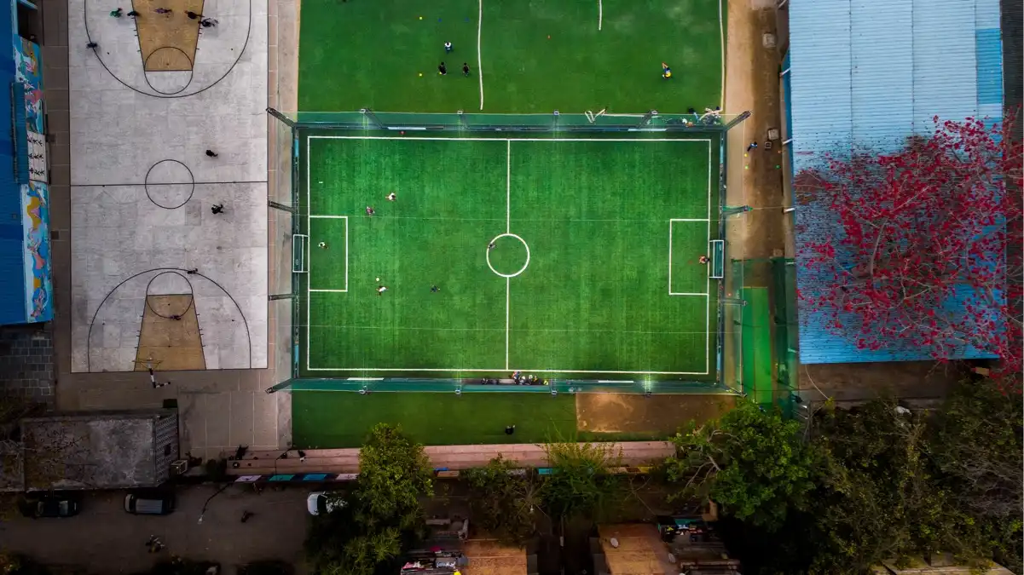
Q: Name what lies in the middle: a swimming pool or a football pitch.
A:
football pitch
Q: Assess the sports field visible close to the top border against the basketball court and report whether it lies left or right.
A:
on its right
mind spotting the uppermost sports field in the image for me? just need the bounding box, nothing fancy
[299,0,725,112]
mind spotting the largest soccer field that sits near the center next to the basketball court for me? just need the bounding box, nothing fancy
[298,129,724,380]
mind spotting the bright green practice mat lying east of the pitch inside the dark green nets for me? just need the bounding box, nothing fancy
[743,287,773,403]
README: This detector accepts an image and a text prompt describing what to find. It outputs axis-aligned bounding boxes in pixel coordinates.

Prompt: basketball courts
[67,0,269,373]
